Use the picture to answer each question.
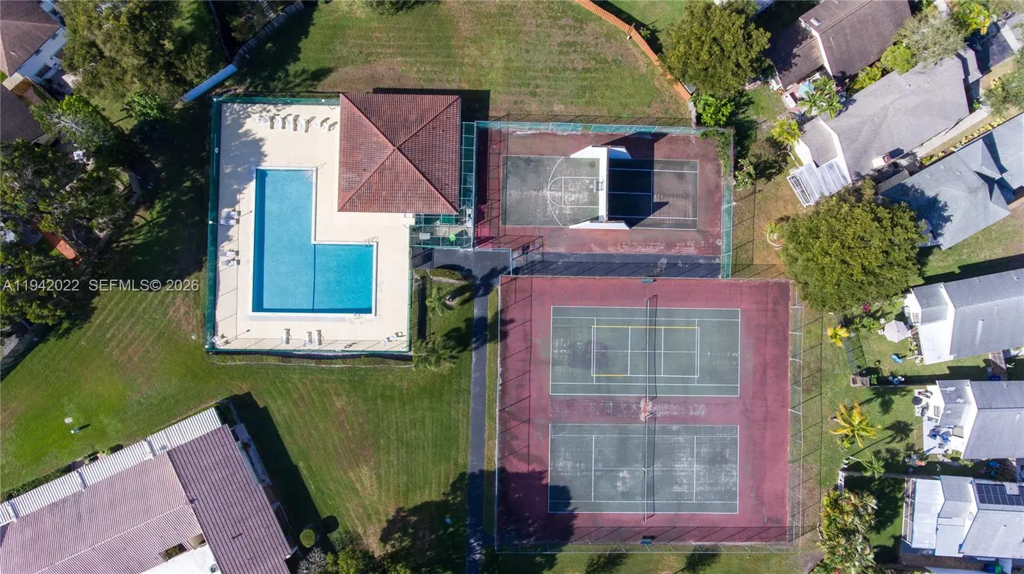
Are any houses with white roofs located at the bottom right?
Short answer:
Yes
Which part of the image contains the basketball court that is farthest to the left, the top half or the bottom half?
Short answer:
top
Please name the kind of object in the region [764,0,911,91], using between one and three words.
house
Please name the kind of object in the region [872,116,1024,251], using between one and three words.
house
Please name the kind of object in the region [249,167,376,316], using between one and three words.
swimming pool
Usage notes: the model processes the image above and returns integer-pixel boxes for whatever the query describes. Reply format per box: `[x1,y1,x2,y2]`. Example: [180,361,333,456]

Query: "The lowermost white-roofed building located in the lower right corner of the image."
[900,473,1024,558]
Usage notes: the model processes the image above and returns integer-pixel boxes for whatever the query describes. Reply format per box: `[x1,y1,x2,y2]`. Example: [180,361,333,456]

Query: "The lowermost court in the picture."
[498,410,790,543]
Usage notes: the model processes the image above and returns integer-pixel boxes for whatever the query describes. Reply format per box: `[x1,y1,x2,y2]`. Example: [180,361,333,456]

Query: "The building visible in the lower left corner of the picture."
[0,404,301,574]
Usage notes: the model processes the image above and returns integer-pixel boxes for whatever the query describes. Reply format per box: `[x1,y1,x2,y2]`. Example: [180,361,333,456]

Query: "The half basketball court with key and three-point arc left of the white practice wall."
[476,129,601,251]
